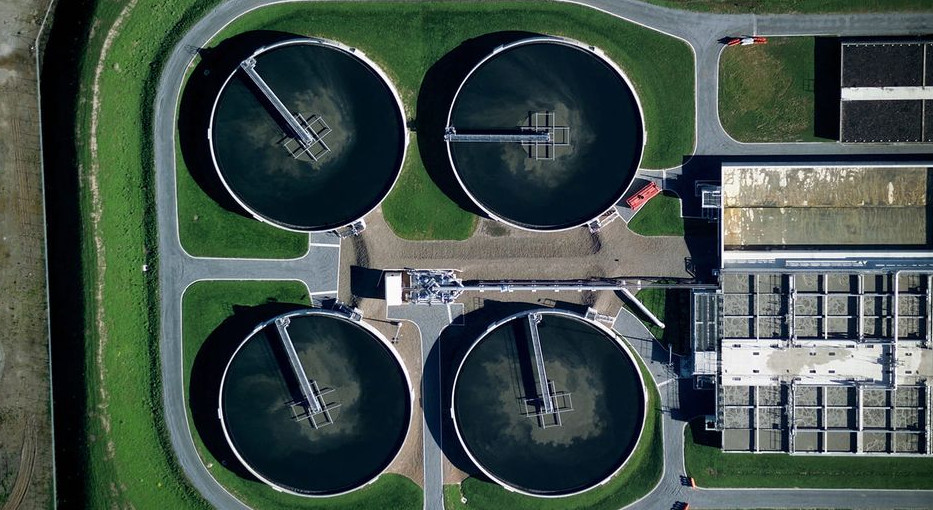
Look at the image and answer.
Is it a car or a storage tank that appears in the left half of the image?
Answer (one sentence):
The feature located in the left half of the image is a storage tank.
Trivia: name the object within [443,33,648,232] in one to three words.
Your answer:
storage tank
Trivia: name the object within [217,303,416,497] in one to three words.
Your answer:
storage tank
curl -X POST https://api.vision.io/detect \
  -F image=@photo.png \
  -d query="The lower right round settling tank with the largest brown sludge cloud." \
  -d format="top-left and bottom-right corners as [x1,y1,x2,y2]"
[450,302,650,497]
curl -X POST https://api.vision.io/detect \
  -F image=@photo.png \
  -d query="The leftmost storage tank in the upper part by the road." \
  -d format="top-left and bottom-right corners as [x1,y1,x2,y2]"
[208,34,411,233]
